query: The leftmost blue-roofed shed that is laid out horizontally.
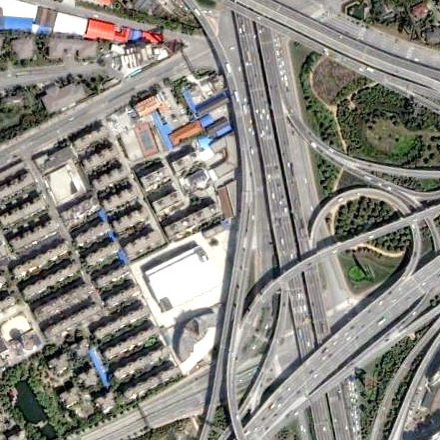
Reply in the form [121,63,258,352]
[0,17,35,33]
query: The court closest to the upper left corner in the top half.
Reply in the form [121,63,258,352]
[134,122,159,157]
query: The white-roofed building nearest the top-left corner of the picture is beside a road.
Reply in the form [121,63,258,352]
[0,0,38,20]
